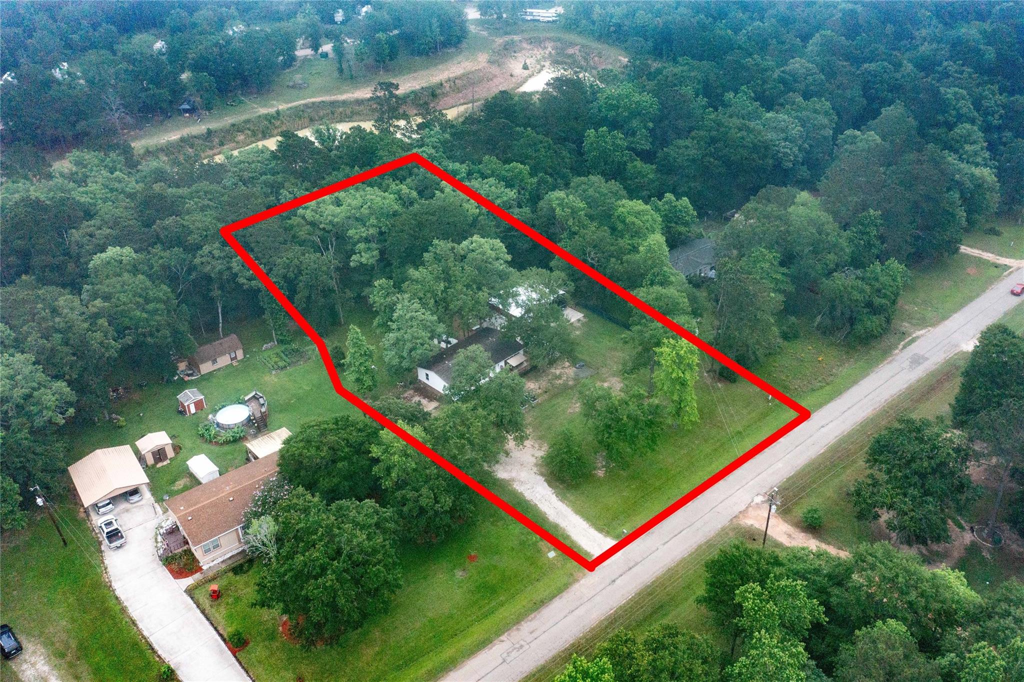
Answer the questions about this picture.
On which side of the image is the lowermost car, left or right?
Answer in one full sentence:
The lowermost car is on the left side of the image.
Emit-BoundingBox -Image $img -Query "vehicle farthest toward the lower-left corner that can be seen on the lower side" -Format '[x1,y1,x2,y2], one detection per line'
[0,622,29,668]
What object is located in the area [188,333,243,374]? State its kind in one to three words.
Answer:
shed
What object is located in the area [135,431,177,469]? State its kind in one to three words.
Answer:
shed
